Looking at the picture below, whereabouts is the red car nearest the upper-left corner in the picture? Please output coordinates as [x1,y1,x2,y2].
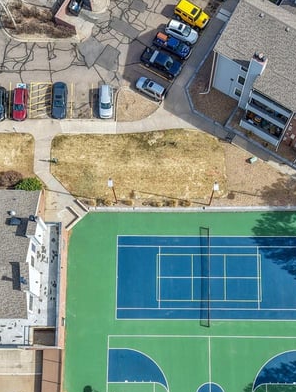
[10,88,30,123]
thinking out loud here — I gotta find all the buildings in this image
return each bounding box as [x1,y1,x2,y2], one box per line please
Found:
[0,189,62,352]
[205,0,296,144]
